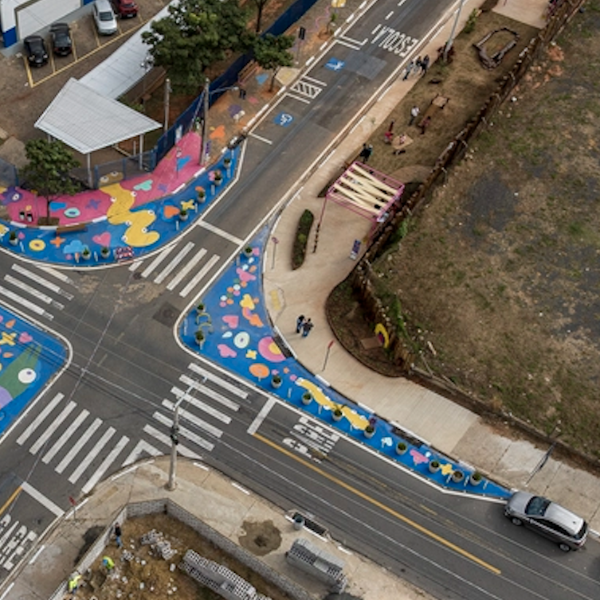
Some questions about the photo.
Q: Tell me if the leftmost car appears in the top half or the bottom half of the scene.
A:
top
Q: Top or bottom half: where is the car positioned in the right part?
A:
bottom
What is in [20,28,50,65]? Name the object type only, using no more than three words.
car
